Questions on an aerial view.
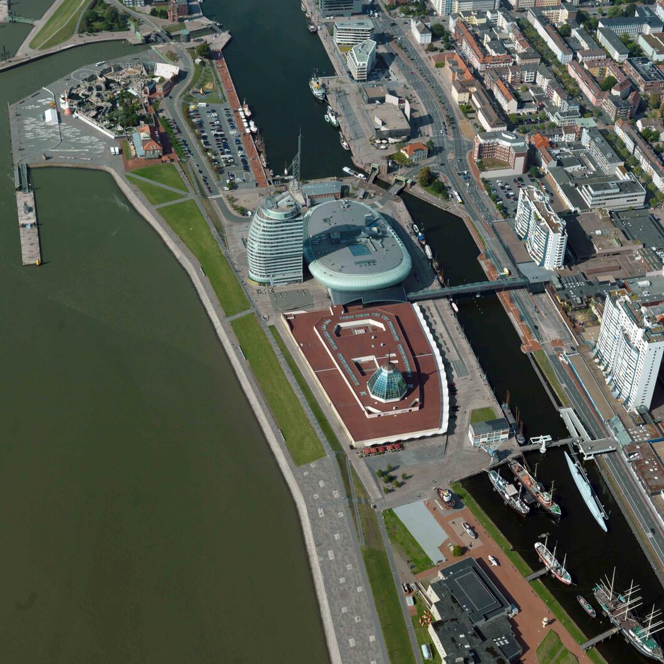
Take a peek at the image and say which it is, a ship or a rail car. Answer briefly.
ship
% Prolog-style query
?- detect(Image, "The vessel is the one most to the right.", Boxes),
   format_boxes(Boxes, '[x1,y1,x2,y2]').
[593,567,664,664]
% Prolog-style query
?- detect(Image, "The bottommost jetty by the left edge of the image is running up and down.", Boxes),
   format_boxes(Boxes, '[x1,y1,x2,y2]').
[14,190,44,268]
